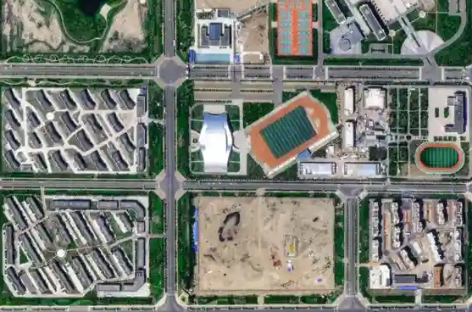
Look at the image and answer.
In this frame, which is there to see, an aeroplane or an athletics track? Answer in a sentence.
I can see an athletics track in this picture.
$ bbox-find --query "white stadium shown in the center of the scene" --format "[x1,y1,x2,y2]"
[199,114,233,175]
